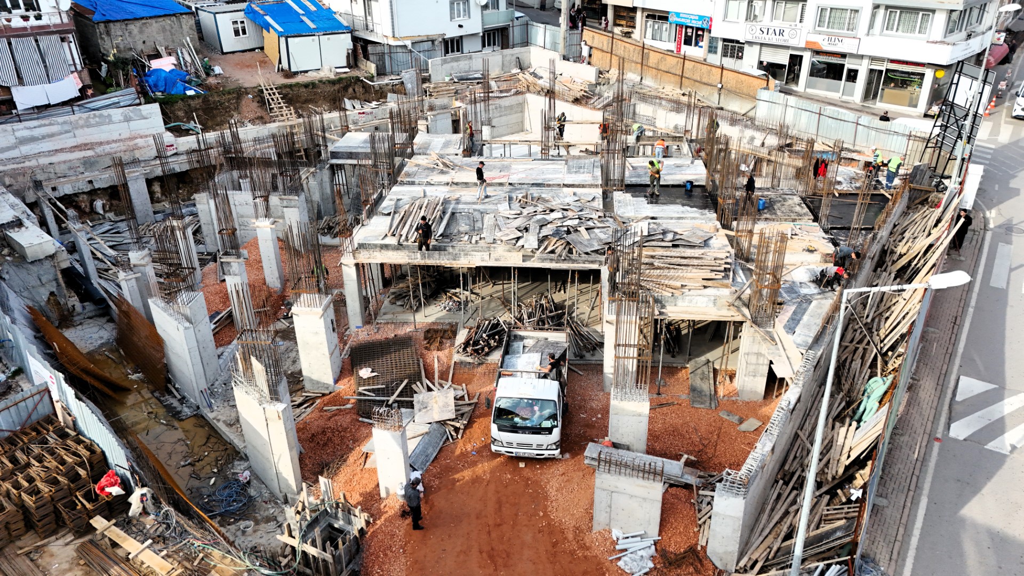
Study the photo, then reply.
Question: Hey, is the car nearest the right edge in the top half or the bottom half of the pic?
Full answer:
The top half of the photo is where the car nearest the right edge is.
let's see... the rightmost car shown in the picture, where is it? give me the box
[998,80,1024,118]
